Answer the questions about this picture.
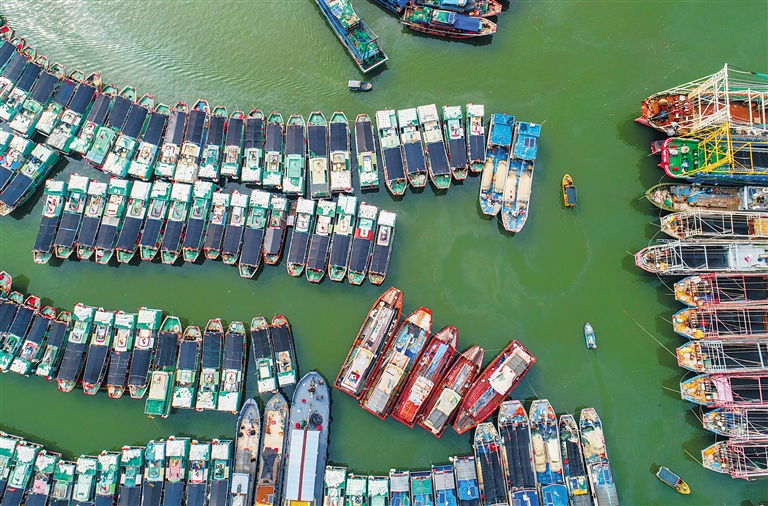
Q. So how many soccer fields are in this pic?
zero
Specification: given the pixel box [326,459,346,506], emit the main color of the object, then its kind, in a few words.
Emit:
white boat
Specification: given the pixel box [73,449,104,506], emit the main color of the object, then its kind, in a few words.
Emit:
white boat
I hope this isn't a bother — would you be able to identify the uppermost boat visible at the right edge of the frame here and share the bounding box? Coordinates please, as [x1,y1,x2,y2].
[637,60,768,133]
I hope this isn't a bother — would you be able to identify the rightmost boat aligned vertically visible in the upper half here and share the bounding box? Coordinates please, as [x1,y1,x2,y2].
[562,174,578,208]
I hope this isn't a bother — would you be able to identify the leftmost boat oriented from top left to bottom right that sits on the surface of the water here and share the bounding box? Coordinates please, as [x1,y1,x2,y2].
[314,0,388,76]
